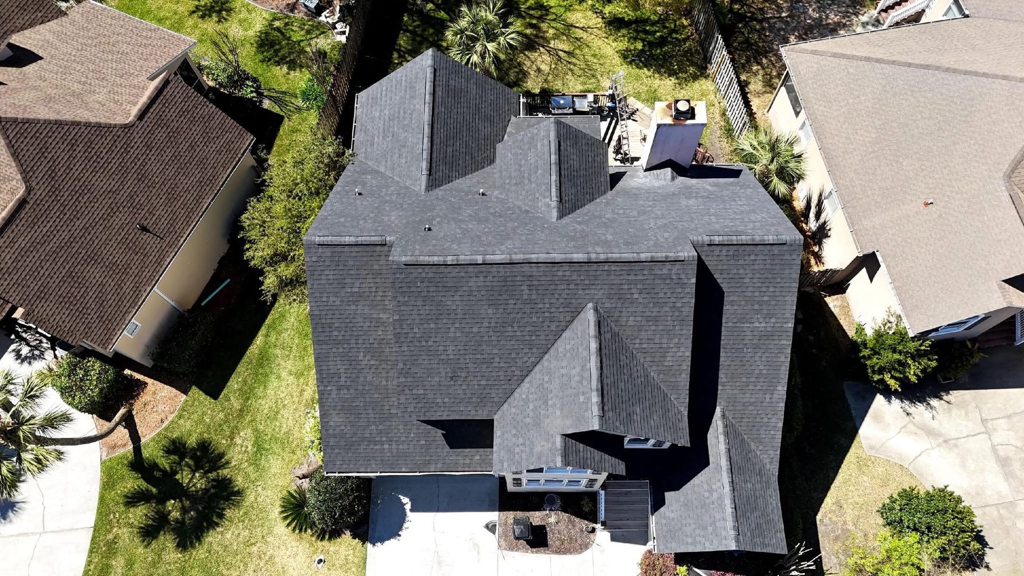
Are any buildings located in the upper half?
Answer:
Yes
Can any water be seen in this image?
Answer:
No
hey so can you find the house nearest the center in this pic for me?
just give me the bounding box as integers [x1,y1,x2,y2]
[304,48,803,554]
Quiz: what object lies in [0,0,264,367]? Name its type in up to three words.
house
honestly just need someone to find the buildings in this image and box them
[766,0,1024,357]
[304,48,803,554]
[0,0,264,367]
